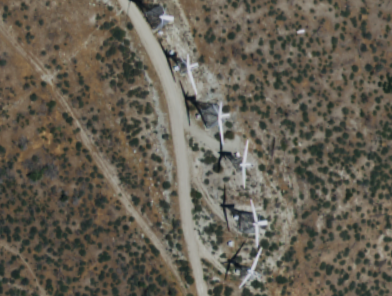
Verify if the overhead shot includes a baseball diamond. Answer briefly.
No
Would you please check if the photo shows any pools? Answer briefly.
No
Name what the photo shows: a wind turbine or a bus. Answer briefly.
wind turbine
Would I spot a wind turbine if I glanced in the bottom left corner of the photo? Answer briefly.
No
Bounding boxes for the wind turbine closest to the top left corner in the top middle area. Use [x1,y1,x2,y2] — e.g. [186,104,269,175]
[139,0,174,31]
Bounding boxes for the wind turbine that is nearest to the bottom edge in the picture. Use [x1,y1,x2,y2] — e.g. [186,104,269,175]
[236,248,260,290]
